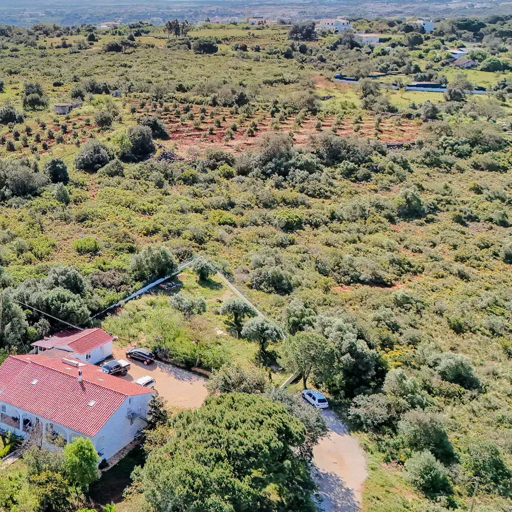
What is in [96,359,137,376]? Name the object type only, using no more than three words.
vehicle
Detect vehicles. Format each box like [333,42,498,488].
[96,359,137,376]
[299,392,334,410]
[123,348,158,365]
[129,373,161,391]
